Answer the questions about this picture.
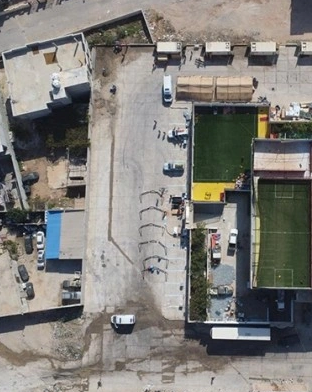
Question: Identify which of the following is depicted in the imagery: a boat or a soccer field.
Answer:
soccer field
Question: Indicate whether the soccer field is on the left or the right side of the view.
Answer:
right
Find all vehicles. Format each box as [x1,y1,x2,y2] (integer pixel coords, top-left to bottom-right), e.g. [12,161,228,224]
[35,230,45,250]
[61,291,82,301]
[227,227,237,251]
[23,181,31,195]
[167,129,189,139]
[17,263,30,283]
[210,231,221,263]
[22,172,41,182]
[60,279,74,288]
[35,250,45,268]
[111,314,135,325]
[162,75,172,103]
[23,235,33,254]
[210,325,271,341]
[162,162,184,172]
[25,281,35,300]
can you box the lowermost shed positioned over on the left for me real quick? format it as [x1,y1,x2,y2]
[45,209,85,259]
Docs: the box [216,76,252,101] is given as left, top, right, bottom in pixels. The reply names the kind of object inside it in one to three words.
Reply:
tent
